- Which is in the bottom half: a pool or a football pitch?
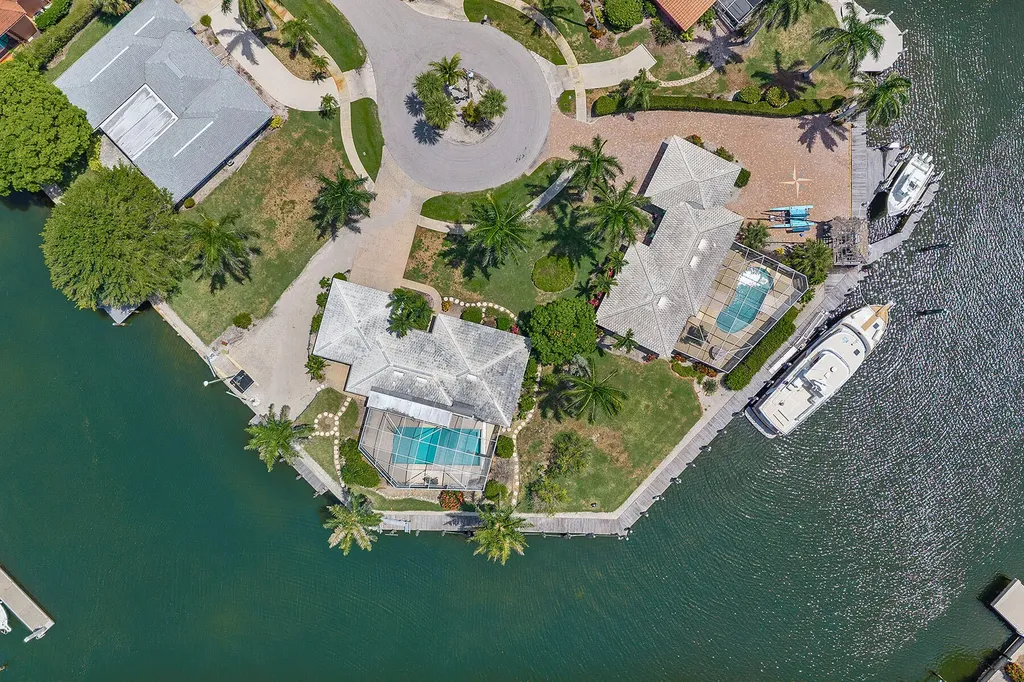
pool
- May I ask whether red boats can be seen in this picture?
No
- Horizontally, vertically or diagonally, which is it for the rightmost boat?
diagonally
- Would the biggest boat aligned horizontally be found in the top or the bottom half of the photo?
top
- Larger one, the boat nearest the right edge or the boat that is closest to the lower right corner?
the boat that is closest to the lower right corner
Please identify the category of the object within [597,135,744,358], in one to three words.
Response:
house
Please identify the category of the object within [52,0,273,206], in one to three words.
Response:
house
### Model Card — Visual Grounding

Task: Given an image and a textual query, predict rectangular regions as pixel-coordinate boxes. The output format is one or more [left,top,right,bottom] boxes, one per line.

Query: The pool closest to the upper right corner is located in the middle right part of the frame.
[715,266,775,335]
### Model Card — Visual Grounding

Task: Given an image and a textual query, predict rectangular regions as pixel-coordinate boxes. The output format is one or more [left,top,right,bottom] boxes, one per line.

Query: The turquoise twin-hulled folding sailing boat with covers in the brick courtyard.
[762,204,816,228]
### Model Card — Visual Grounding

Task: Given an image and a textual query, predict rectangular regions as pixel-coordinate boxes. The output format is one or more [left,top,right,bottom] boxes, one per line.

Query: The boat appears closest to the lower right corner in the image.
[748,302,894,436]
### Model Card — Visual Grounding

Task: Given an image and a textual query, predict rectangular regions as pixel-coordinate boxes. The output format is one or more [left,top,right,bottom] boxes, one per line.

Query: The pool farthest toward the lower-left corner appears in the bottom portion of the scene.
[392,424,481,468]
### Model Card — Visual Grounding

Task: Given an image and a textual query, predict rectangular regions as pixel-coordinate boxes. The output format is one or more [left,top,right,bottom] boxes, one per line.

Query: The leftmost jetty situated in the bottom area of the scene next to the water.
[0,568,49,635]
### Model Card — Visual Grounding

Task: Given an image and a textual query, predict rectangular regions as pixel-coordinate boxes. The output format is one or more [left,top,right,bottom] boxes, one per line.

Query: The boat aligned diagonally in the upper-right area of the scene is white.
[885,151,935,217]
